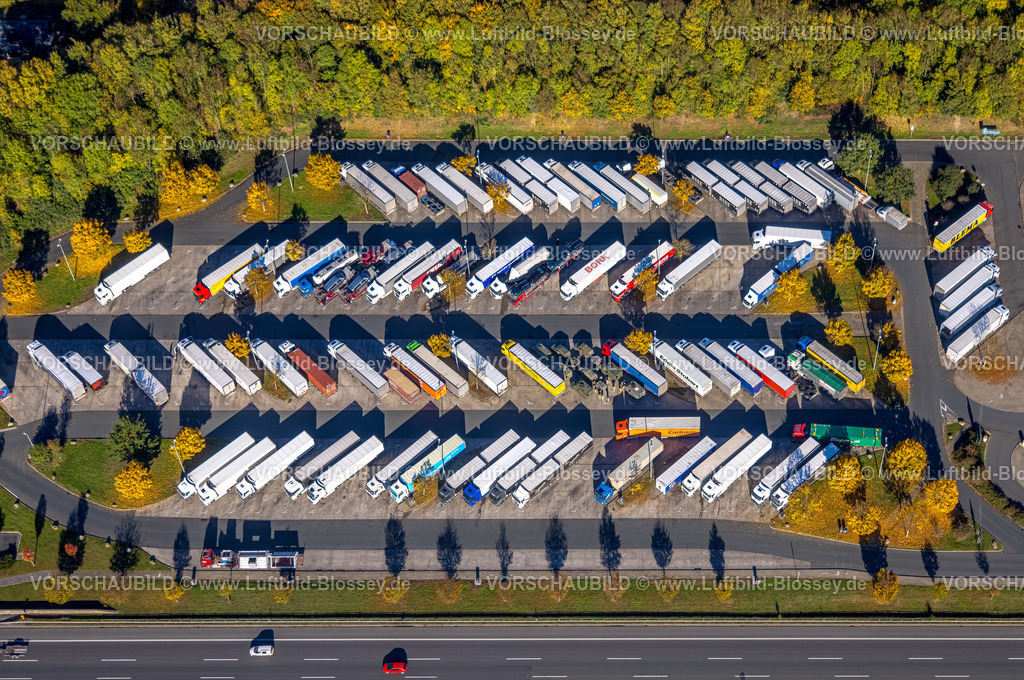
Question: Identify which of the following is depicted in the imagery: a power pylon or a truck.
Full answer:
Looking from above, you can make out a truck.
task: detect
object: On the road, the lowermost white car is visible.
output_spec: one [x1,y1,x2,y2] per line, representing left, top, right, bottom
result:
[249,644,274,657]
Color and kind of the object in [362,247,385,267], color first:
red car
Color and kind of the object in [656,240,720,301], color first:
white truck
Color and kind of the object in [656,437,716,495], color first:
white trailer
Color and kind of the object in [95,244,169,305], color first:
white truck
